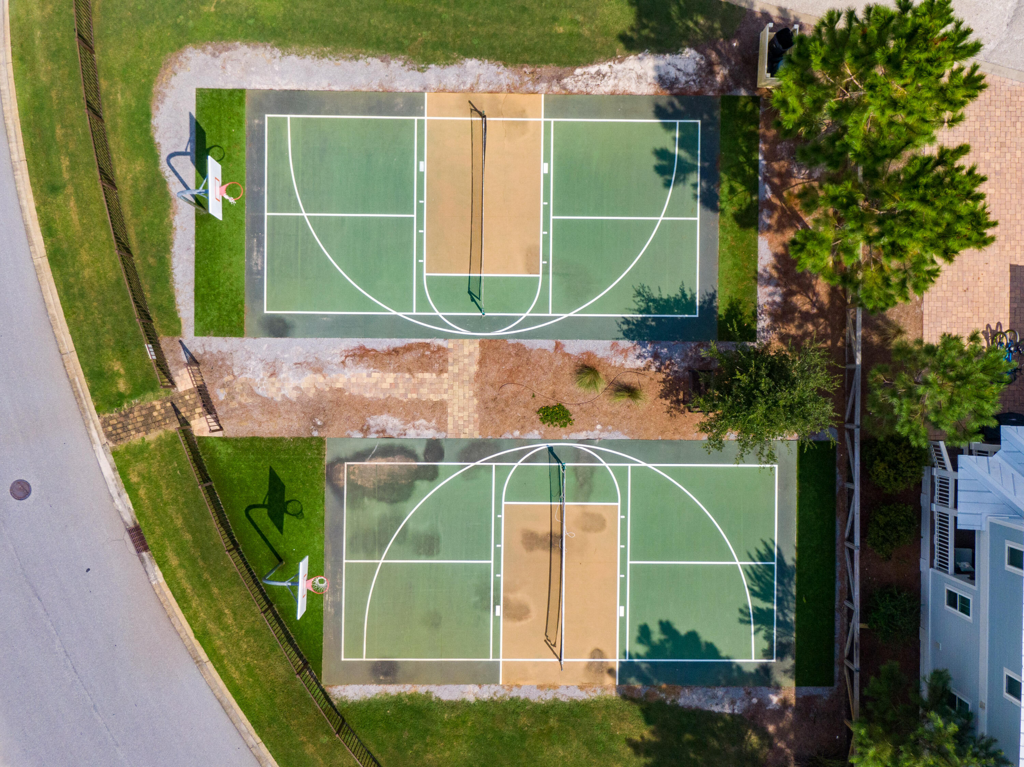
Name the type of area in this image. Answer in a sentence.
This looks like a sports ground.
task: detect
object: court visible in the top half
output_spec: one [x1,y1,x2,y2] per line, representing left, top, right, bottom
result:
[244,89,721,341]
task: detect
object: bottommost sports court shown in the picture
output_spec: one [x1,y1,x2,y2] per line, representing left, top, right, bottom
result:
[322,438,797,687]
